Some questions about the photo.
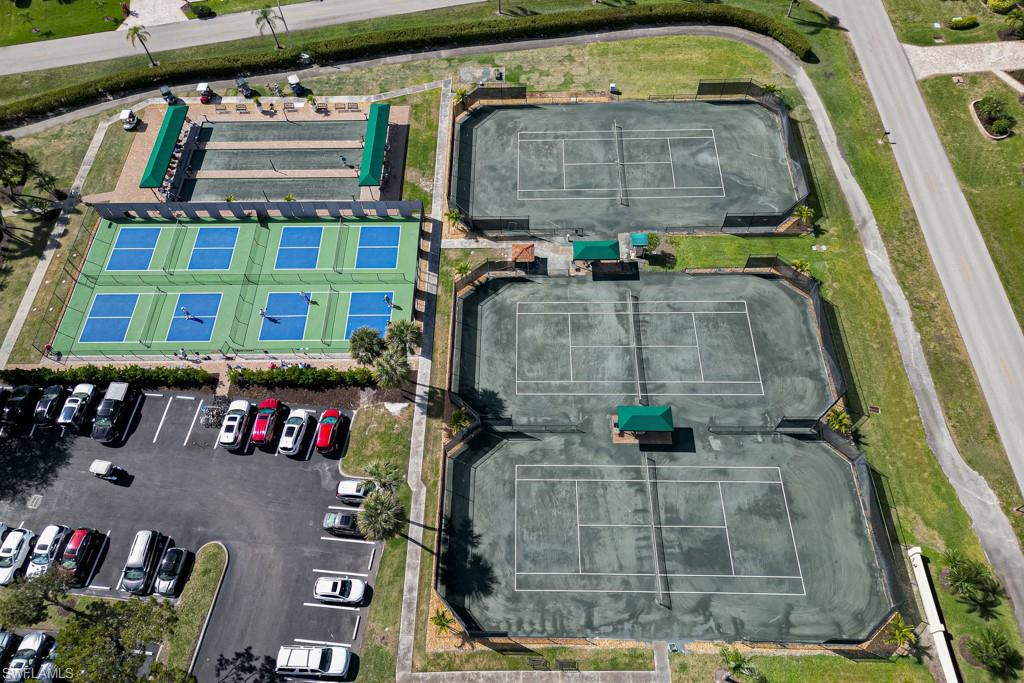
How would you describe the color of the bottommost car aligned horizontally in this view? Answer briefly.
white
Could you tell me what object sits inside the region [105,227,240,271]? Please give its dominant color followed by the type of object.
blue sports court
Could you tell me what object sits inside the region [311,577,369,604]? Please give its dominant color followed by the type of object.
white car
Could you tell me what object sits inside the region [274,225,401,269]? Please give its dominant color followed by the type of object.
blue sports court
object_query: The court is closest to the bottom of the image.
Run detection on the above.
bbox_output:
[440,432,891,643]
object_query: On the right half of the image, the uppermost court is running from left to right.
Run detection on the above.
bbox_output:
[451,101,797,238]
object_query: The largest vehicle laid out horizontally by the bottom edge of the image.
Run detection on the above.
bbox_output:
[276,644,351,679]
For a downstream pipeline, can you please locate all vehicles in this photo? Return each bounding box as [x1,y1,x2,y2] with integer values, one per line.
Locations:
[0,515,12,547]
[311,577,369,604]
[236,78,253,100]
[93,384,135,441]
[0,527,38,585]
[250,401,282,448]
[57,384,96,429]
[318,512,365,538]
[120,110,139,132]
[0,623,22,681]
[0,388,11,417]
[154,547,190,598]
[332,478,383,503]
[219,403,252,450]
[59,527,102,586]
[27,524,70,581]
[4,628,51,683]
[29,384,69,429]
[279,411,309,458]
[196,83,215,105]
[315,410,343,456]
[120,530,164,594]
[288,75,304,97]
[158,86,179,106]
[91,460,126,482]
[276,644,351,679]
